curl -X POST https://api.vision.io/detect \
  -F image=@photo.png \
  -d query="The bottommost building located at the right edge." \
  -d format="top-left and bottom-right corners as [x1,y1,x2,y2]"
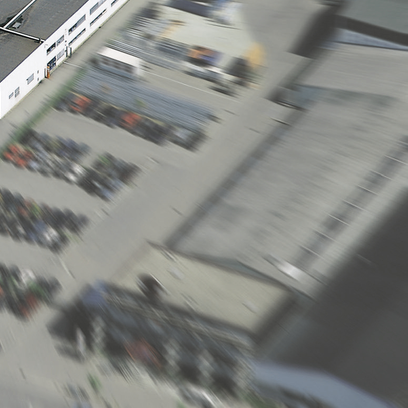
[260,200,408,408]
